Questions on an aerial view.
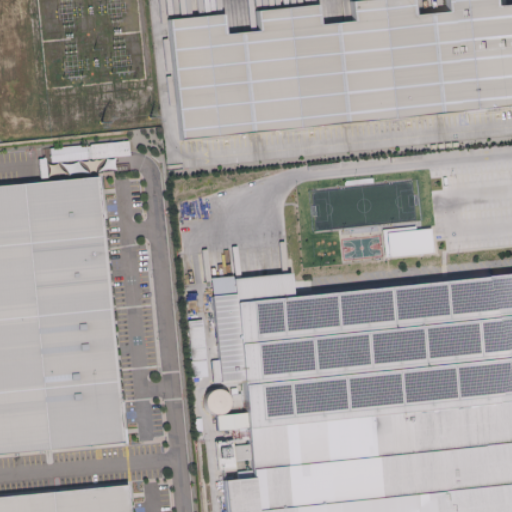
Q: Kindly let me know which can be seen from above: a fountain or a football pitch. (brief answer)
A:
football pitch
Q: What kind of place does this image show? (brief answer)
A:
industrial area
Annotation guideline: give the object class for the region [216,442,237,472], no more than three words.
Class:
building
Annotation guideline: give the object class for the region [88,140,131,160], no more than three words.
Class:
building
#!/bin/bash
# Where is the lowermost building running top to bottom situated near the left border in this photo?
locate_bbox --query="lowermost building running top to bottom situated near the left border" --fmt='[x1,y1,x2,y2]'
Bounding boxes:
[0,176,126,454]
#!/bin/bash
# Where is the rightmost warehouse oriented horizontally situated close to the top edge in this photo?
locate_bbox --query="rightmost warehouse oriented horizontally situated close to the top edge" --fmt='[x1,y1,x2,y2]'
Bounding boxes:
[169,0,512,138]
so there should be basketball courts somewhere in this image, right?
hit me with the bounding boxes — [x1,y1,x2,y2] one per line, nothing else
[342,236,382,260]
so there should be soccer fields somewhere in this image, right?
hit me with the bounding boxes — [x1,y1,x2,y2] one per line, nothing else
[314,180,420,230]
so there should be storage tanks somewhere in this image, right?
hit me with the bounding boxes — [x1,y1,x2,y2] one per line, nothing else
[202,387,233,416]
